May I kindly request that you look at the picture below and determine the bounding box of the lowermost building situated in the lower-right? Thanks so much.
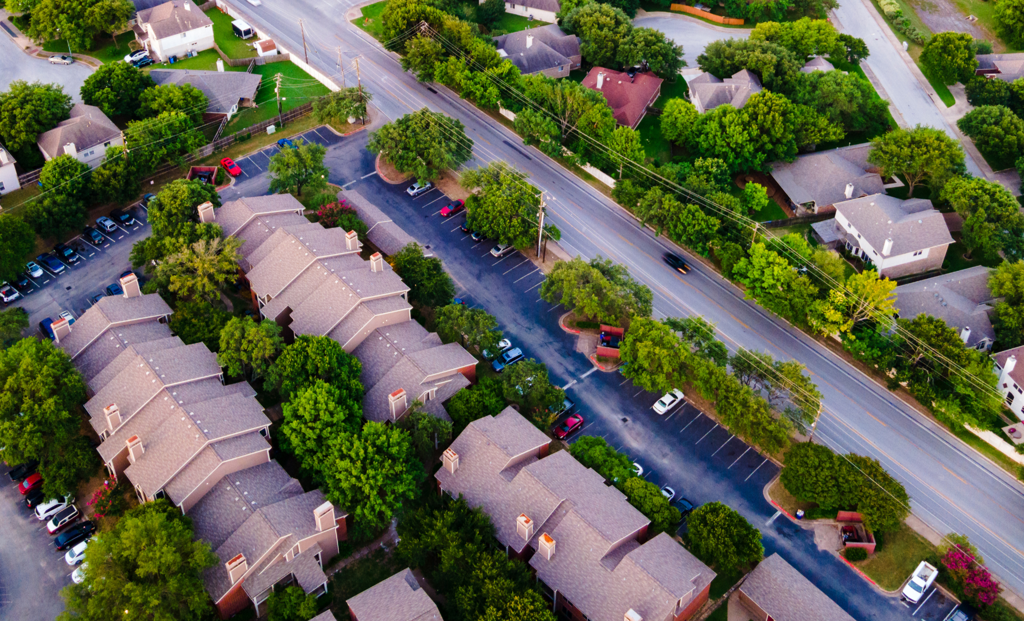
[736,554,856,621]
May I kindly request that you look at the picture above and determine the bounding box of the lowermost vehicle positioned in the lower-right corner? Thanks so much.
[946,601,974,621]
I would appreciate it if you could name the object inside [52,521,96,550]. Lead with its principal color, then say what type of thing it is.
black car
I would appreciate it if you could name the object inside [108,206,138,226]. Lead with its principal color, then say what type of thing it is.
black car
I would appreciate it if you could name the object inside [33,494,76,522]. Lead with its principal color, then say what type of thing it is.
white car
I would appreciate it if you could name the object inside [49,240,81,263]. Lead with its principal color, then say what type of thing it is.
black truck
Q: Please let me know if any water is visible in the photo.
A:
No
